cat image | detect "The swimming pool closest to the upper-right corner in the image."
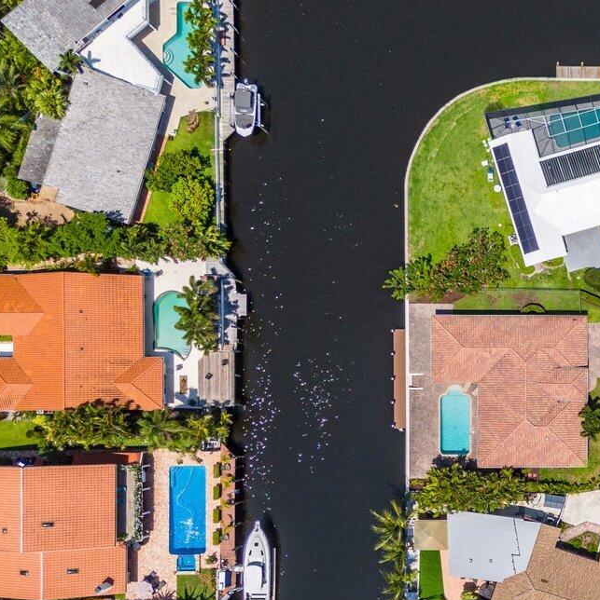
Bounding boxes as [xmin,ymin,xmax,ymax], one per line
[548,104,600,148]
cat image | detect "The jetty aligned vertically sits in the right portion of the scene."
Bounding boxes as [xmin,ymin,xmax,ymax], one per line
[391,329,404,429]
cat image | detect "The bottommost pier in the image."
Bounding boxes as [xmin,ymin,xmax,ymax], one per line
[219,445,246,600]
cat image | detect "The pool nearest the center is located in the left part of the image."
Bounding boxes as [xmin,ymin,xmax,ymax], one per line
[153,289,196,361]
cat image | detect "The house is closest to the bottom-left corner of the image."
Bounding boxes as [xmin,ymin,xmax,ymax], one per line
[0,452,151,600]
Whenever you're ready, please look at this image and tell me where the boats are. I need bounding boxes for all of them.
[233,78,256,136]
[243,522,270,600]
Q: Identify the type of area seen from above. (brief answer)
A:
residential area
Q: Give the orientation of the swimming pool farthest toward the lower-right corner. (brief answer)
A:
vertically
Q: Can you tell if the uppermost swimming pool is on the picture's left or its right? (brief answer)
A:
left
